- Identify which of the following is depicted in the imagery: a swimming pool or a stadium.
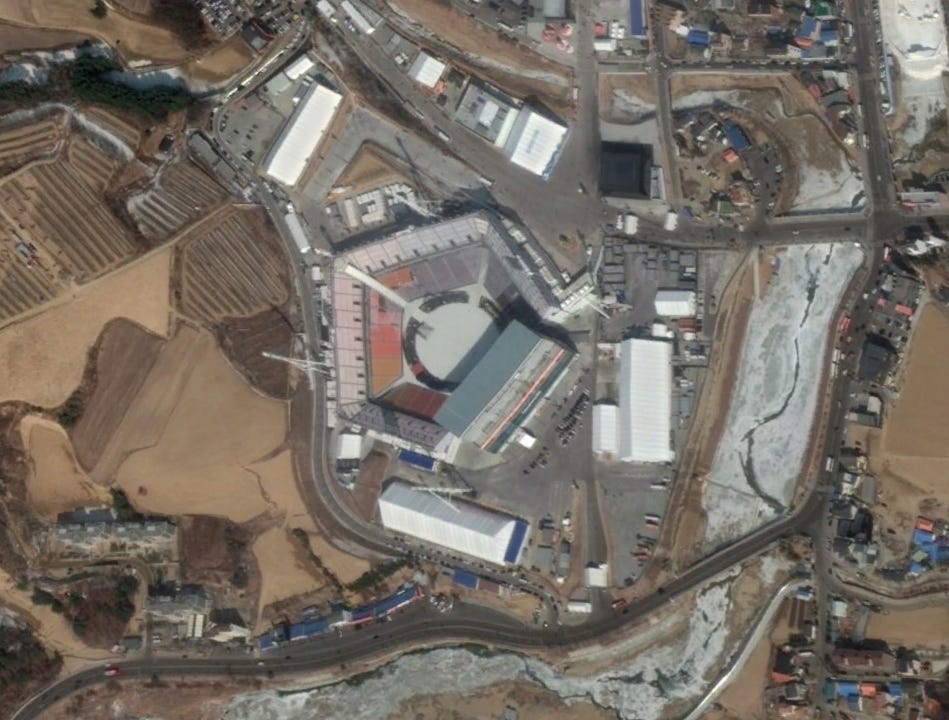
stadium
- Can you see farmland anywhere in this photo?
Yes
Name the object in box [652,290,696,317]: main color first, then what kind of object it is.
white tent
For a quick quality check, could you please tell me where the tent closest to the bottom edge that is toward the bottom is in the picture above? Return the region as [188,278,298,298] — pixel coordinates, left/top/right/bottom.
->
[381,484,533,566]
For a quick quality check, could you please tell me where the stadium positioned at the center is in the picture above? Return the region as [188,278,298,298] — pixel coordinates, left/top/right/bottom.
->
[334,212,576,457]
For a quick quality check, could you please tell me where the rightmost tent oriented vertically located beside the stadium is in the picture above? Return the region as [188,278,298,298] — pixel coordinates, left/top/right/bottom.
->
[617,335,675,461]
